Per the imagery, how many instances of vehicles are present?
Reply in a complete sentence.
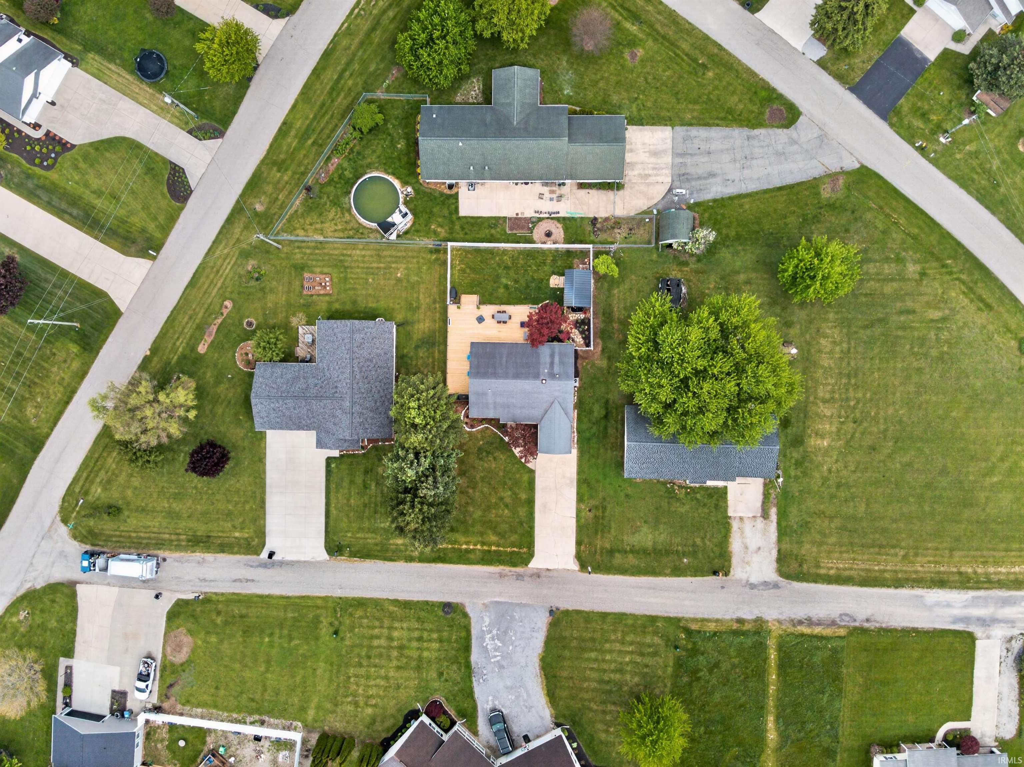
The photo contains 3 vehicles.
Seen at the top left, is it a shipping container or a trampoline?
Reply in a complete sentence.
Looking at the top left, you will find a trampoline.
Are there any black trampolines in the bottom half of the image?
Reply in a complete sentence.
No, the scene shows no black trampoline in the bottom half of the image.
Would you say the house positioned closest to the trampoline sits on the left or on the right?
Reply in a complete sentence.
The house positioned closest to the trampoline sits on the left side.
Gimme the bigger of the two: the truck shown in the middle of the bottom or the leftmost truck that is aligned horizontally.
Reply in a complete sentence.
The leftmost truck that is aligned horizontally covers a greater area than the truck shown in the middle of the bottom.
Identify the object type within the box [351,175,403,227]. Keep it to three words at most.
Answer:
swimming pool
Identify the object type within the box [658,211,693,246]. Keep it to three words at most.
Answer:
shed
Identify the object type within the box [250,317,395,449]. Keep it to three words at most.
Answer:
house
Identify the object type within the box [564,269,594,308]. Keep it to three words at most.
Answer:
building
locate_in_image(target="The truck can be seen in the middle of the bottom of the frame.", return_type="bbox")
[488,708,514,755]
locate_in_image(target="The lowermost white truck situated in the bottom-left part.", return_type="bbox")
[133,655,158,701]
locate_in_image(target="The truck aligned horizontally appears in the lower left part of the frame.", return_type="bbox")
[80,548,164,577]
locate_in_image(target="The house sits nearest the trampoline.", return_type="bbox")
[0,13,76,124]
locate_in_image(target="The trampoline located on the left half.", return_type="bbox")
[134,48,169,84]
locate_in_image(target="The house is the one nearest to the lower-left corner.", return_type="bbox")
[51,708,142,767]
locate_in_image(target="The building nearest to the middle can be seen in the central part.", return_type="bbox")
[469,342,575,455]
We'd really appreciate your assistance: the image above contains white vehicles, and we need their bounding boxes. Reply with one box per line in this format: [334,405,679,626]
[80,548,164,577]
[133,655,158,701]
